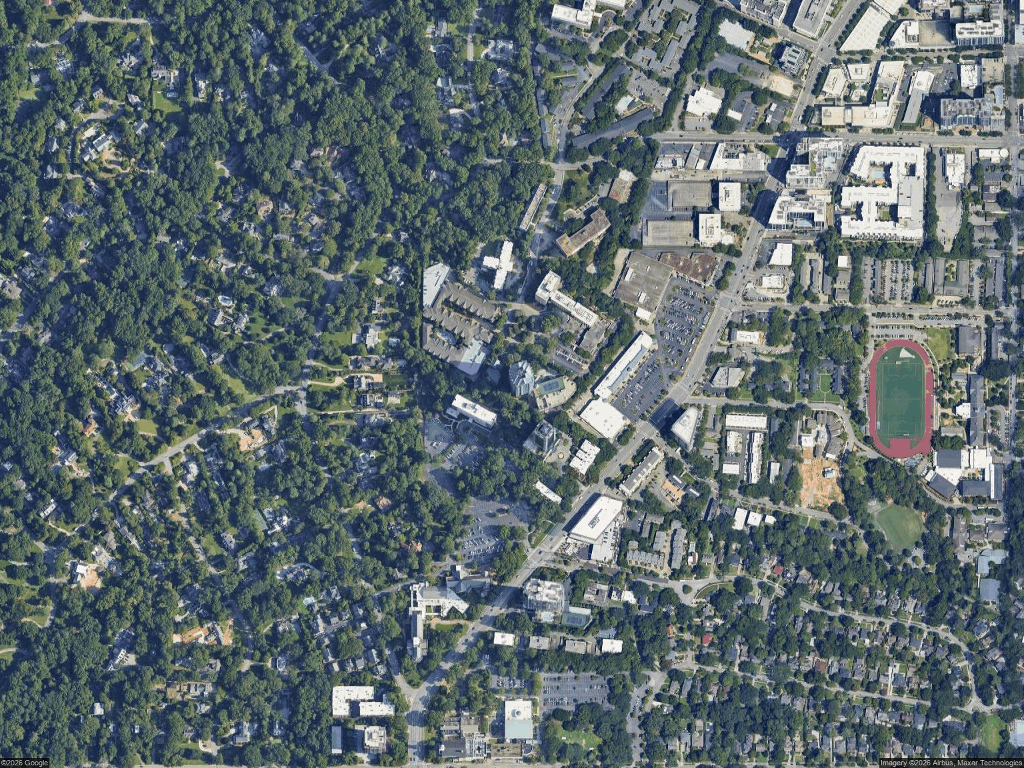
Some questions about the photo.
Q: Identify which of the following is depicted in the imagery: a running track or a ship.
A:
running track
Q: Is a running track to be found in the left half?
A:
No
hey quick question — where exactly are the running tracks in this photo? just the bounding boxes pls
[869,339,933,458]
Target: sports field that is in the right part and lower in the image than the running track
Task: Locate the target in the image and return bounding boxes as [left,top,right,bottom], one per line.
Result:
[878,504,925,550]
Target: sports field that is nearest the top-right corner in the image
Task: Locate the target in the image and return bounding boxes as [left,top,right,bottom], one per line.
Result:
[928,328,955,363]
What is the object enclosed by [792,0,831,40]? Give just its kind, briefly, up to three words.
building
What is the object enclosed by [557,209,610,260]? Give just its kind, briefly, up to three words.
building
